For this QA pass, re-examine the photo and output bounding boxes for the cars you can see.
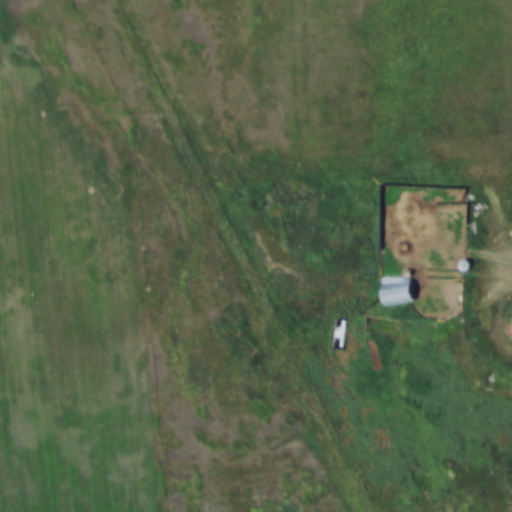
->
[334,320,348,350]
